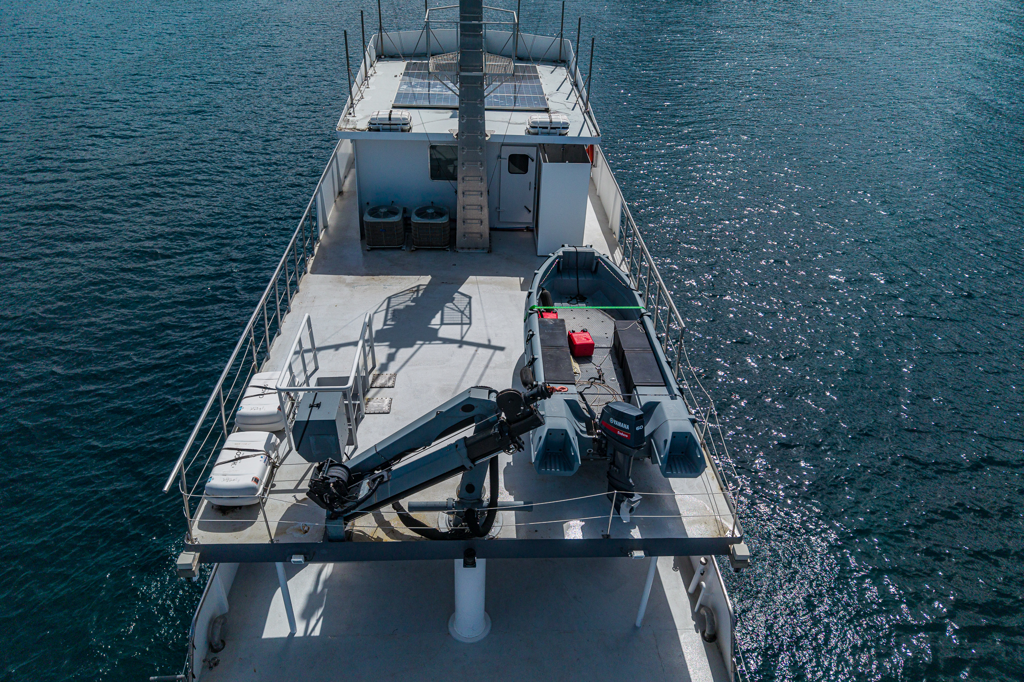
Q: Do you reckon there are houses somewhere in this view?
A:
No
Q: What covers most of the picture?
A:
water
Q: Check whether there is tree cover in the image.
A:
No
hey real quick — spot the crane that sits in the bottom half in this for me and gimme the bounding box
[298,380,558,543]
